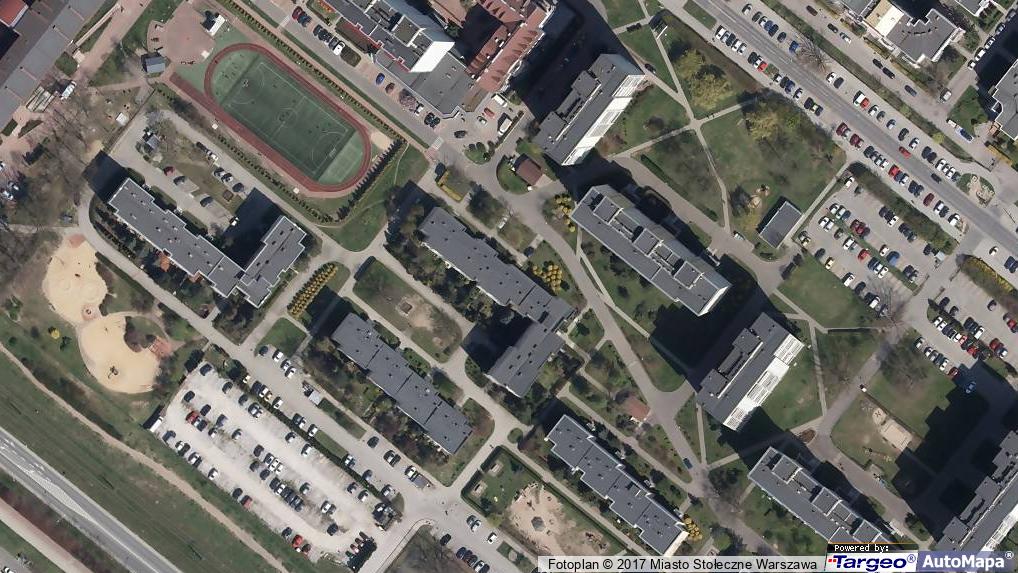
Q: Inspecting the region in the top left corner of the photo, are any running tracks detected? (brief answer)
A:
Yes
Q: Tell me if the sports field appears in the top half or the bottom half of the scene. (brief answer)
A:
top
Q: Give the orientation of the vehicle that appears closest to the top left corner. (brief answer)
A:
diagonally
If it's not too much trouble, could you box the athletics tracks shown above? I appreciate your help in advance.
[170,42,371,192]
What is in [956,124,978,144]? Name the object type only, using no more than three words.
vehicle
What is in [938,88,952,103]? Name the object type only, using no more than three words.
vehicle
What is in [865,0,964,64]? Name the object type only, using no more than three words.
building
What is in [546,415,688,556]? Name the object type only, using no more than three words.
building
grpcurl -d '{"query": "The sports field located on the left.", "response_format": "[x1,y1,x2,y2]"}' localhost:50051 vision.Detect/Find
[212,50,363,184]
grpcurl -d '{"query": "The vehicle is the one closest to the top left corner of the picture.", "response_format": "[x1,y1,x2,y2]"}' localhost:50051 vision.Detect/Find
[58,80,79,101]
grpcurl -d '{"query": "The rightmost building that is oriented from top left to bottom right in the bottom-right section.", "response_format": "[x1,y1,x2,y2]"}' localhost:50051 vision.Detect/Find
[749,447,912,573]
